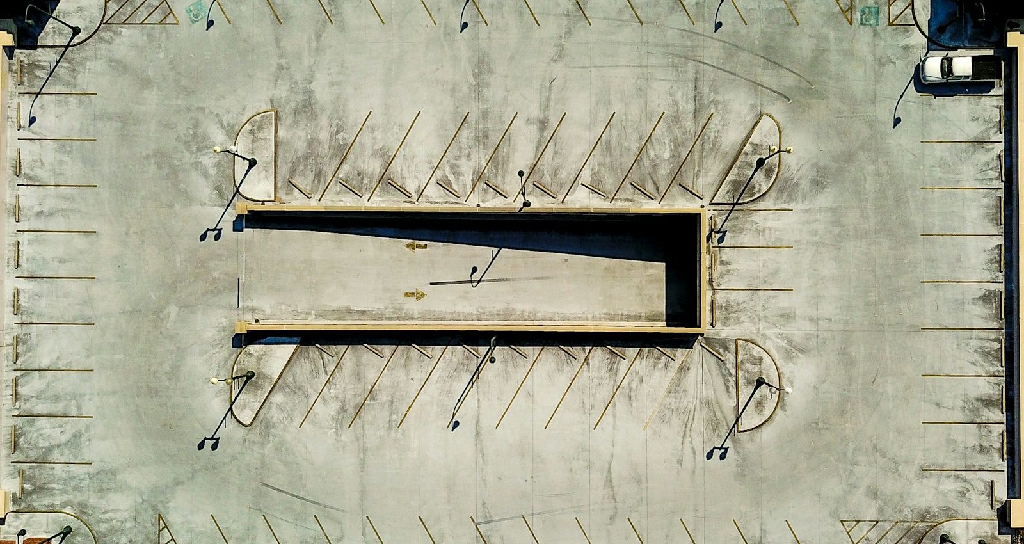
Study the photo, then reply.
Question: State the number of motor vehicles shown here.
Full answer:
The count comes to 1 motor vehicle.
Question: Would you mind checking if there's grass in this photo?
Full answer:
No, no grass is visible.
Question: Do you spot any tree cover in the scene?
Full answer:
No, the picture contains no tree cover.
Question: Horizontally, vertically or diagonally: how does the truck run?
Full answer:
The truck runs horizontally in the image.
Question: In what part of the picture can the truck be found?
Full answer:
Look in the top right portion of the view to spot the truck.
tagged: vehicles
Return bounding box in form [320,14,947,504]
[918,52,1002,86]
